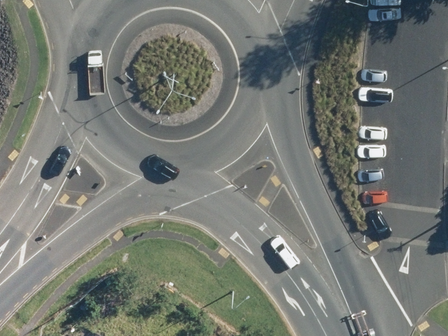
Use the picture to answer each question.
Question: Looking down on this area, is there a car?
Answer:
Yes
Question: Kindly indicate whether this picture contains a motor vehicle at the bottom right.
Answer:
Yes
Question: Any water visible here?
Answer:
No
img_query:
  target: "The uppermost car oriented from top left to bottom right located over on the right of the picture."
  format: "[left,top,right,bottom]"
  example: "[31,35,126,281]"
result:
[368,210,392,239]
